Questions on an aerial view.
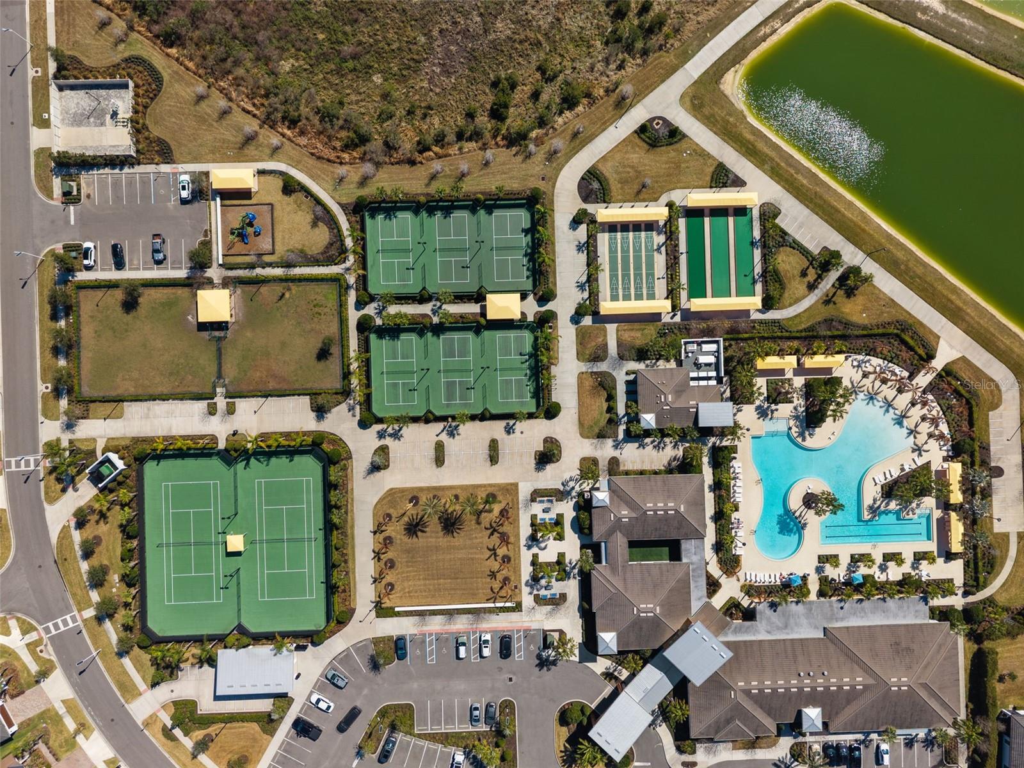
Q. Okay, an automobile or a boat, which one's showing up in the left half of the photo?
automobile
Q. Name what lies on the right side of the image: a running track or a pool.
pool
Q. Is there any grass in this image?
Yes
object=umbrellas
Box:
[851,572,864,584]
[789,574,802,587]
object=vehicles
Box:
[480,632,491,658]
[337,706,361,733]
[151,234,165,264]
[83,243,96,268]
[877,741,891,766]
[325,667,349,690]
[470,702,481,727]
[849,742,862,768]
[292,717,322,741]
[178,175,191,201]
[824,740,837,766]
[456,635,467,659]
[310,693,335,713]
[837,741,849,766]
[378,736,397,763]
[809,740,820,757]
[111,243,125,269]
[500,633,511,659]
[395,635,407,661]
[453,747,466,768]
[485,701,496,726]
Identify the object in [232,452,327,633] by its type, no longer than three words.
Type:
tennis court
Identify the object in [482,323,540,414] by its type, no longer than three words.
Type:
sports court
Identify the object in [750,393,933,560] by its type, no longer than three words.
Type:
swimming pool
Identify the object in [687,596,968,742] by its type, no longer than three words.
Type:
building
